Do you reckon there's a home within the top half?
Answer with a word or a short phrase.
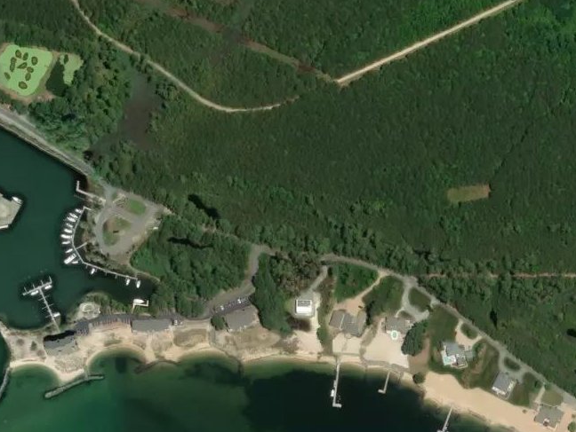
No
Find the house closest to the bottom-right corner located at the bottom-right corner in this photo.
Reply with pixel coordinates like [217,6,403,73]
[533,404,564,431]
